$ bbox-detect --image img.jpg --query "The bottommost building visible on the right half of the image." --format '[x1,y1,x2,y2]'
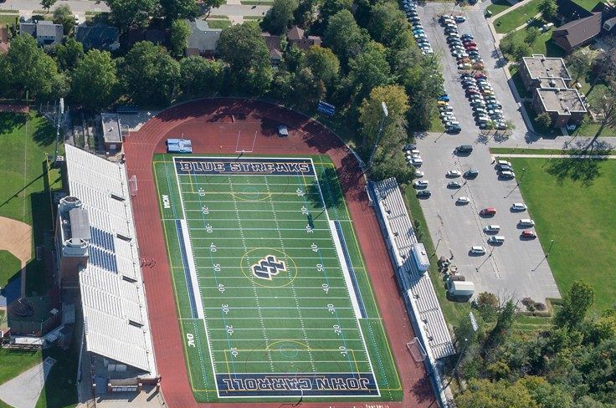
[517,52,588,132]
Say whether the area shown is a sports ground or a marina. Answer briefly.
sports ground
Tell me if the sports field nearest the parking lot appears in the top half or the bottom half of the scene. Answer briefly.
bottom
